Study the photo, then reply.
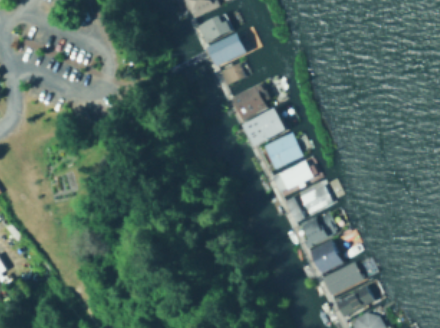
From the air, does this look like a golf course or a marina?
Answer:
marina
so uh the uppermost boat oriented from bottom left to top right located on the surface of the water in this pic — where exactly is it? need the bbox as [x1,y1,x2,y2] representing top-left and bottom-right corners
[347,246,363,258]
